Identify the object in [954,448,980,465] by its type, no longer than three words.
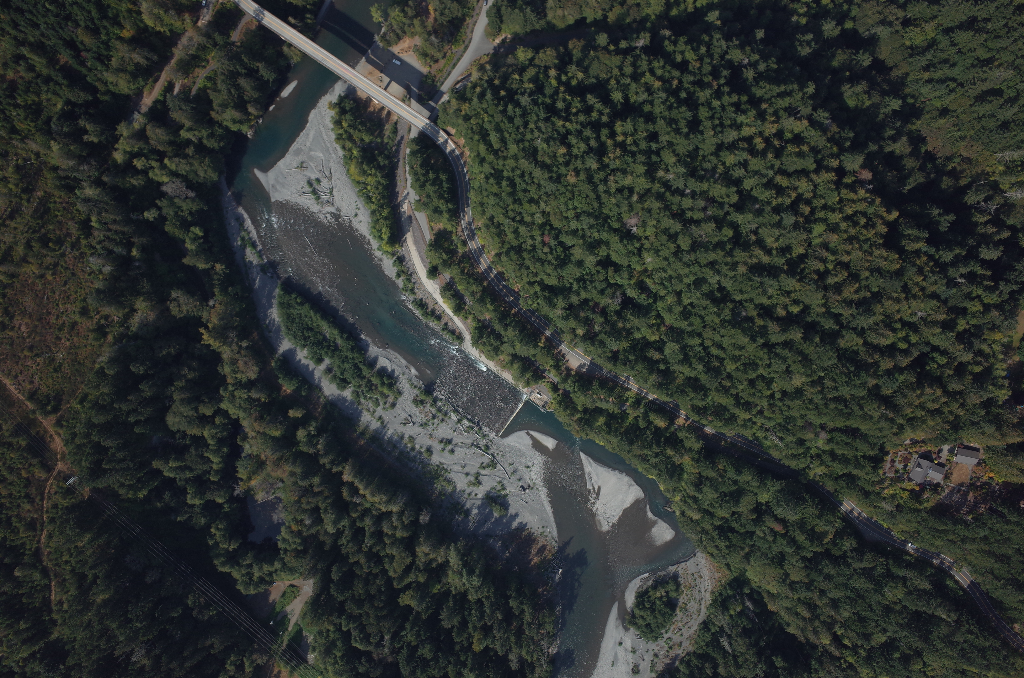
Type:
building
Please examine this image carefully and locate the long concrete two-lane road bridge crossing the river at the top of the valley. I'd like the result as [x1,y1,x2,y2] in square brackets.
[225,0,428,131]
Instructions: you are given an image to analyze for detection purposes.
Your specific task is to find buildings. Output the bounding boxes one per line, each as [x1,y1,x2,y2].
[954,448,980,465]
[908,458,945,483]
